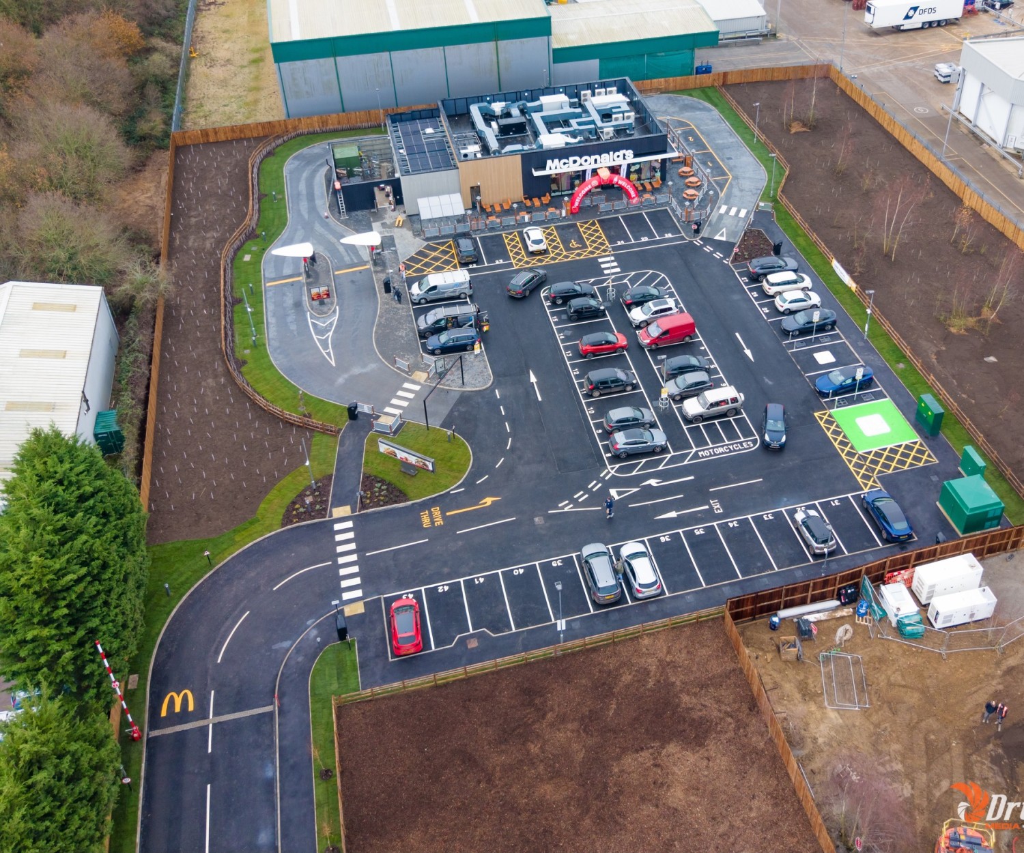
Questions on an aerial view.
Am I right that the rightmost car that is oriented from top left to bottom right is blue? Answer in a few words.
Yes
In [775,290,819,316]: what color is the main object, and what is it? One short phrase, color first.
white car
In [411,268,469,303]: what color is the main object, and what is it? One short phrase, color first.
white van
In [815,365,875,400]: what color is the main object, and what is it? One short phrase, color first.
blue car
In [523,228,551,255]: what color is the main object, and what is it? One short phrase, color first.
white car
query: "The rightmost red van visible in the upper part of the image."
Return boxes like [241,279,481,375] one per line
[637,308,699,349]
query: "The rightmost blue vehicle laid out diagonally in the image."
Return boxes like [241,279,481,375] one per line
[857,490,922,545]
